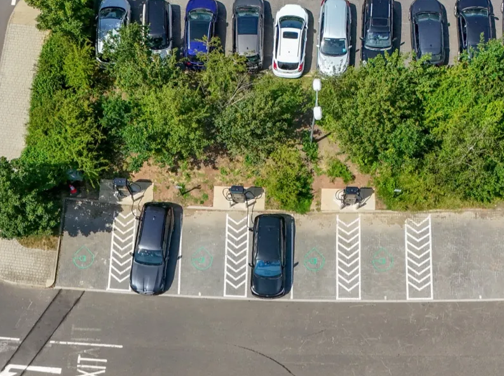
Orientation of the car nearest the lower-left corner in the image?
from top to bottom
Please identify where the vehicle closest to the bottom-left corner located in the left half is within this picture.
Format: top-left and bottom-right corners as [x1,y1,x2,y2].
[129,205,177,292]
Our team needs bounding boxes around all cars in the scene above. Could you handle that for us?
[247,215,291,297]
[228,0,268,74]
[409,0,450,67]
[180,0,220,73]
[455,0,497,61]
[315,0,356,76]
[358,0,400,60]
[129,205,177,292]
[135,0,175,65]
[272,3,312,80]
